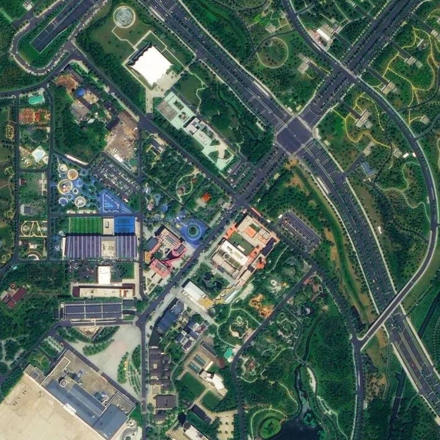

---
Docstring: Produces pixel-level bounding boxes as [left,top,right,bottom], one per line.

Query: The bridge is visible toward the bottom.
[358,233,438,344]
